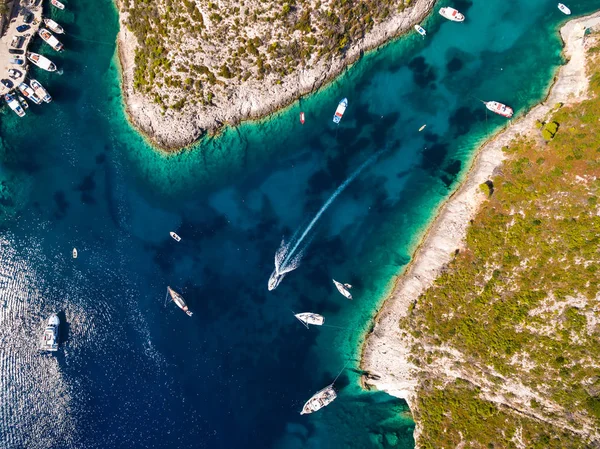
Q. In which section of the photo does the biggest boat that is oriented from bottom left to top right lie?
bottom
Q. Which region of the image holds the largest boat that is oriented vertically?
bottom left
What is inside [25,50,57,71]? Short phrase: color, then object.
white boat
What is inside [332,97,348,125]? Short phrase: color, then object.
white boat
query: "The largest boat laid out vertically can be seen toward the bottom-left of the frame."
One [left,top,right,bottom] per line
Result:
[36,314,57,353]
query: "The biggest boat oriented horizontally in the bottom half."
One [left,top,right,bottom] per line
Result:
[286,305,362,331]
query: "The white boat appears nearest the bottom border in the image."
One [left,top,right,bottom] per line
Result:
[299,357,353,417]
